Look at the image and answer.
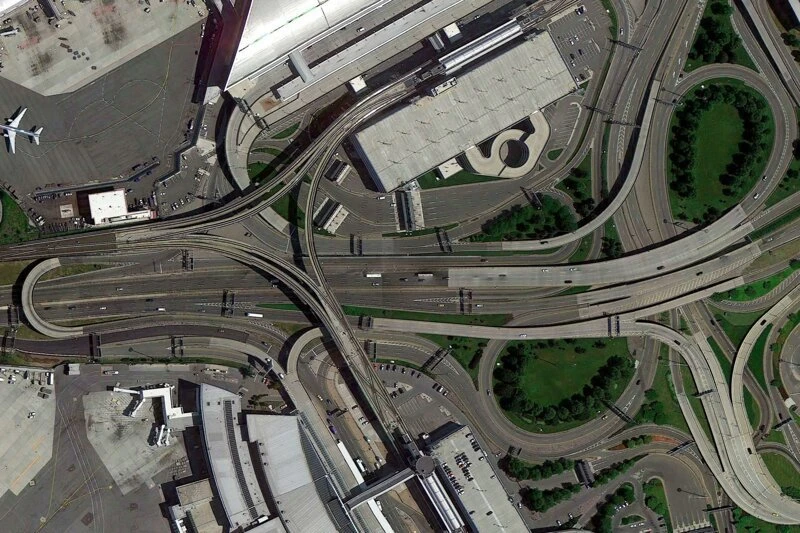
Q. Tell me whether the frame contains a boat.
No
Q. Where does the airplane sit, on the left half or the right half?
left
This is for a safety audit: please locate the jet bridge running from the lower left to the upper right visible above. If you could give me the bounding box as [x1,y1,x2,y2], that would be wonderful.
[129,398,147,417]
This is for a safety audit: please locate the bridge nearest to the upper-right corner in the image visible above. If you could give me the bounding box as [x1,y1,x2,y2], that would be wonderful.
[741,0,791,78]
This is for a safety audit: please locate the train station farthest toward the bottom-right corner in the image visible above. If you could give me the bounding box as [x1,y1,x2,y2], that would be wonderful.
[420,468,468,533]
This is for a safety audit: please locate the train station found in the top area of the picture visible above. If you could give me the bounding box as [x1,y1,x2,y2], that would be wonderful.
[434,17,522,75]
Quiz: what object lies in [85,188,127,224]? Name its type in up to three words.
building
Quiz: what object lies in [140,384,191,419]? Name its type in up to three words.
building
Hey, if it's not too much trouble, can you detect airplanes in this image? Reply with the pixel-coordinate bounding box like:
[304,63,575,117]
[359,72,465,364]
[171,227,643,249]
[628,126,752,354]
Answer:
[0,107,38,153]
